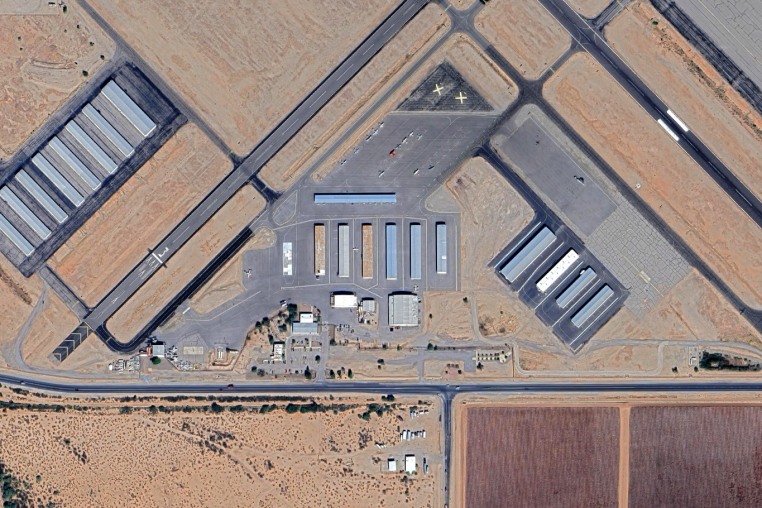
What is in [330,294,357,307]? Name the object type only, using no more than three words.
hangar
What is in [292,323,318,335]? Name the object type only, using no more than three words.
building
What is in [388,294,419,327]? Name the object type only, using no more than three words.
hangar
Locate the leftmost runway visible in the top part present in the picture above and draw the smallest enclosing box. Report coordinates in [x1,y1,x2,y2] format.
[82,0,426,332]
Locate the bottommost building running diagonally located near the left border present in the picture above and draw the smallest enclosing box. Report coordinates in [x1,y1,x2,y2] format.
[0,215,35,257]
